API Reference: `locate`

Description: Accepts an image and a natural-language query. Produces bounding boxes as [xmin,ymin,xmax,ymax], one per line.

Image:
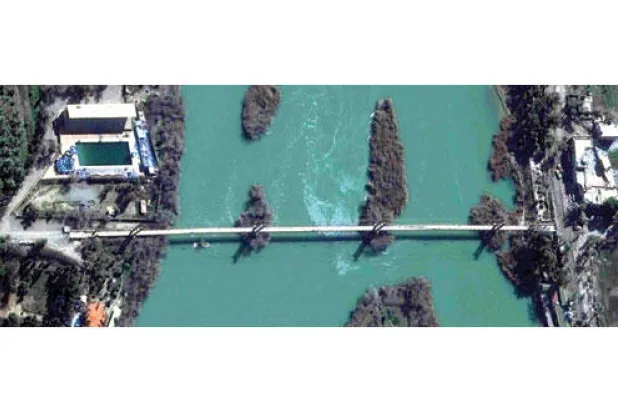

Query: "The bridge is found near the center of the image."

[70,217,557,239]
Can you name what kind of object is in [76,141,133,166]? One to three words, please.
swimming pool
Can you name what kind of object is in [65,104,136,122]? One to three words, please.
building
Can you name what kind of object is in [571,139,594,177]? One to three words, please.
building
